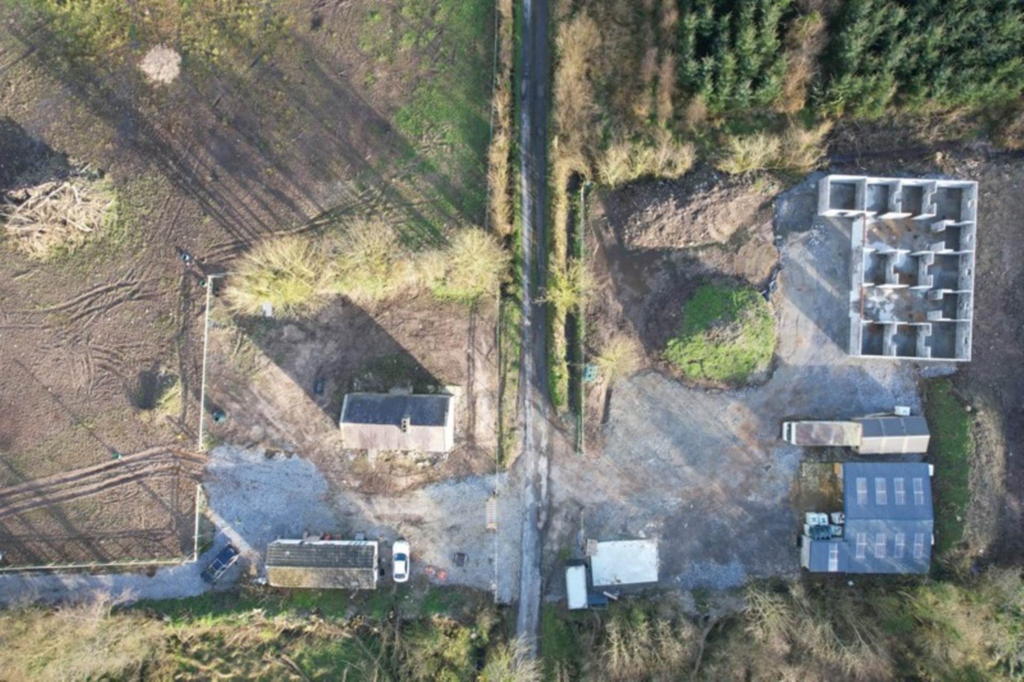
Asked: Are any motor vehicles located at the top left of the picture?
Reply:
No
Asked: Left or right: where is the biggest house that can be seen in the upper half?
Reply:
right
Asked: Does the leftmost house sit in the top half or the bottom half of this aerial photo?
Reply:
bottom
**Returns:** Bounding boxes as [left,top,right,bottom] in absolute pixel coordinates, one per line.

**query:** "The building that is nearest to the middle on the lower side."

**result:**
[344,383,453,453]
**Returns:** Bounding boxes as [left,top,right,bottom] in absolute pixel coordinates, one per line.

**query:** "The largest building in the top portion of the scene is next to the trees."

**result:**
[816,175,979,361]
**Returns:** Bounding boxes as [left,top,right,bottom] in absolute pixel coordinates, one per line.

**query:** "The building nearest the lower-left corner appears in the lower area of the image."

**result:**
[267,539,381,591]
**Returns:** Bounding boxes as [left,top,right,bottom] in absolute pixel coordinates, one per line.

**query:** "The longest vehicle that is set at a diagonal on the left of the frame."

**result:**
[201,541,238,585]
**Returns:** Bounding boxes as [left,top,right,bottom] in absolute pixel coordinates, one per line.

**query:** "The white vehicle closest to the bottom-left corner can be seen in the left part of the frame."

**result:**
[390,540,411,582]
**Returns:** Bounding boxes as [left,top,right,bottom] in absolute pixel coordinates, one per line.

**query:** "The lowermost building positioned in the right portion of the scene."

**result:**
[589,534,658,586]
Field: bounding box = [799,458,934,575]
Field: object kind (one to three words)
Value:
shed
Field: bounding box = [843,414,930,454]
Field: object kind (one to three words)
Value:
shed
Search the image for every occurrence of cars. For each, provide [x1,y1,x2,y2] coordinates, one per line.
[201,541,238,585]
[390,540,411,582]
